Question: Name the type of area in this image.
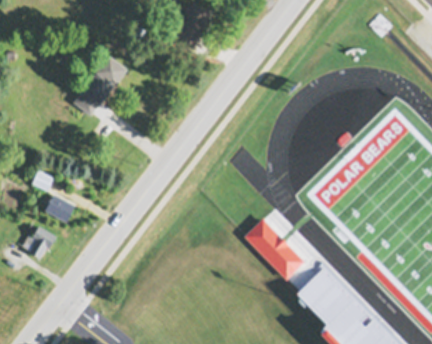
sports ground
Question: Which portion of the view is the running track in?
right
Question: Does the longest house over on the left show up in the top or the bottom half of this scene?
top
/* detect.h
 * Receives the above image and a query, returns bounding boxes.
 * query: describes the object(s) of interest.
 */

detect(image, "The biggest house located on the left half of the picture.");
[72,58,128,117]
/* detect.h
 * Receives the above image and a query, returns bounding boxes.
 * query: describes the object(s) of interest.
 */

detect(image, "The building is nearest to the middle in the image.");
[244,220,304,280]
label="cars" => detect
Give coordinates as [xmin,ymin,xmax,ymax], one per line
[10,250,21,258]
[4,260,14,269]
[104,126,112,136]
[112,214,122,226]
